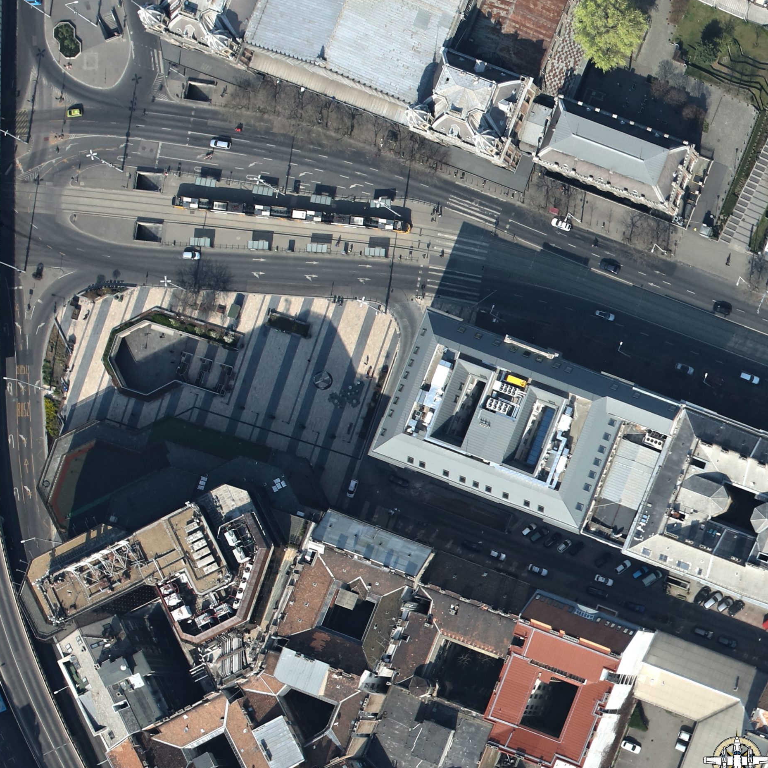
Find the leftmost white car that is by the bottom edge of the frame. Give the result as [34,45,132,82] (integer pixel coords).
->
[623,740,643,754]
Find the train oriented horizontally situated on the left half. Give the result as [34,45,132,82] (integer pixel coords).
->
[174,196,416,235]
